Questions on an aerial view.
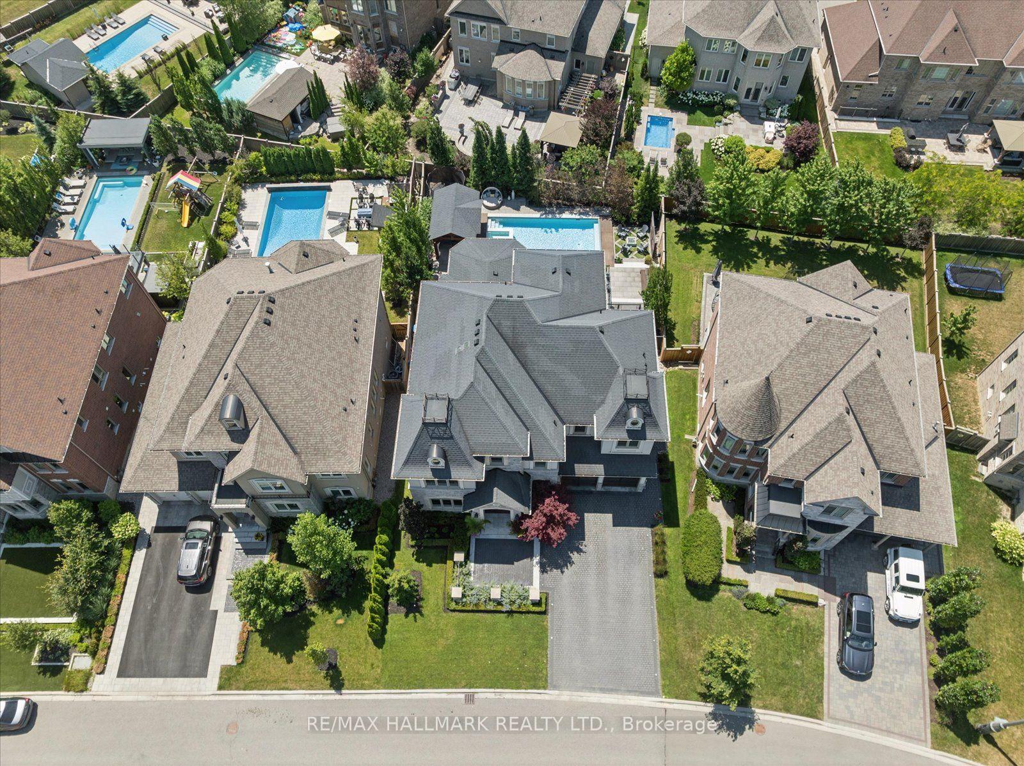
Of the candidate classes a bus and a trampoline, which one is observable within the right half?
trampoline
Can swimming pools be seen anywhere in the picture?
Yes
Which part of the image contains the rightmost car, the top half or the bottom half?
bottom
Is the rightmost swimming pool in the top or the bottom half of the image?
top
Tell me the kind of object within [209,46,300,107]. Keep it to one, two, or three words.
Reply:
swimming pool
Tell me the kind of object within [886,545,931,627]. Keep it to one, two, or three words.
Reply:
car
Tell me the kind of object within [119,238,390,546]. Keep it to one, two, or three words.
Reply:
house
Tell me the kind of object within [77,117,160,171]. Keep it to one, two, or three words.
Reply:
building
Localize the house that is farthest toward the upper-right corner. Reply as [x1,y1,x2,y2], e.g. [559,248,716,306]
[817,0,1024,124]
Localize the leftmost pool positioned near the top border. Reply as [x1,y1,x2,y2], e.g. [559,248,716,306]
[80,11,183,78]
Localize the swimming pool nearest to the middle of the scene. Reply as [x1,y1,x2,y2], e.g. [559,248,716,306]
[484,214,602,250]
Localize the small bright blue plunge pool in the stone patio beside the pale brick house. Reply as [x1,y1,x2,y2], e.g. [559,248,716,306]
[641,113,676,150]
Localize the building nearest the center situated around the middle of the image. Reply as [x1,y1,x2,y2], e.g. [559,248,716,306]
[389,237,671,526]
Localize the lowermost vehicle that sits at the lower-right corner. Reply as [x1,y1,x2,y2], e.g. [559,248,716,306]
[838,594,882,682]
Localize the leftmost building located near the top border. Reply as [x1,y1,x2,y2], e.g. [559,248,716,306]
[6,38,98,112]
